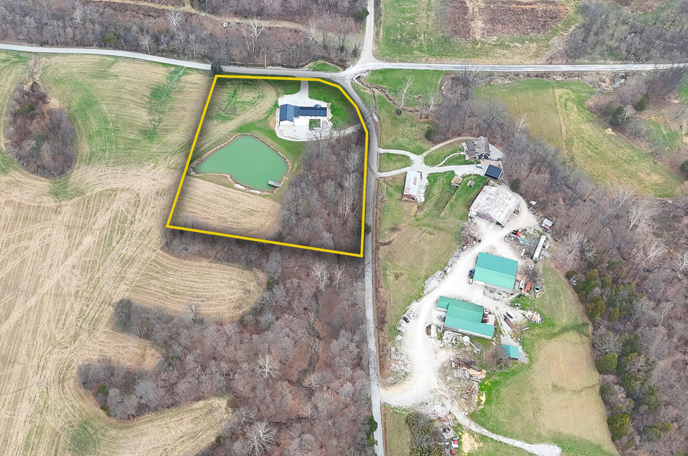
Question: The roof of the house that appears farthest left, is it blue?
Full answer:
Yes, the roof of the house that appears farthest left is blue.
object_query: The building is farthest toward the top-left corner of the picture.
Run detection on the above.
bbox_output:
[279,102,331,129]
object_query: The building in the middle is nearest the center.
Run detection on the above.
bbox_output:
[401,169,422,203]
